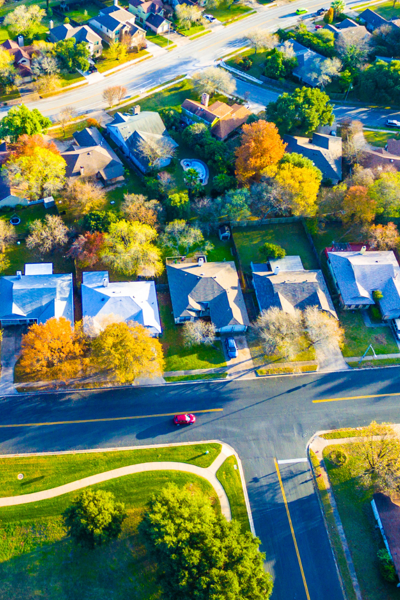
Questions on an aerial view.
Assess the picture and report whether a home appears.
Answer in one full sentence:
Yes, looking at the shot, I can spot a home.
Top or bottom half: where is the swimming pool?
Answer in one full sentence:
The swimming pool sits in the top half of the picture.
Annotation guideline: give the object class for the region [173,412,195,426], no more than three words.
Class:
vehicle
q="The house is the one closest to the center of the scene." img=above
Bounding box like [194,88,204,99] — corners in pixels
[167,257,249,334]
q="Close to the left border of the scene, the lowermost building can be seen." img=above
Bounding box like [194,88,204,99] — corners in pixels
[0,262,75,330]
